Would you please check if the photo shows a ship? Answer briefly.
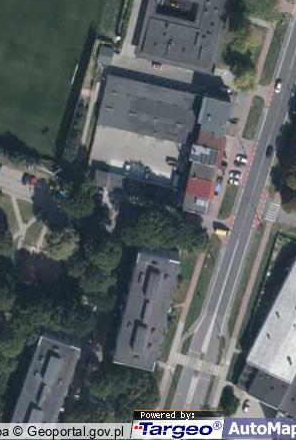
No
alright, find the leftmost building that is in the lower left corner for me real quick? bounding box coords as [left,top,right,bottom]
[4,332,80,440]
